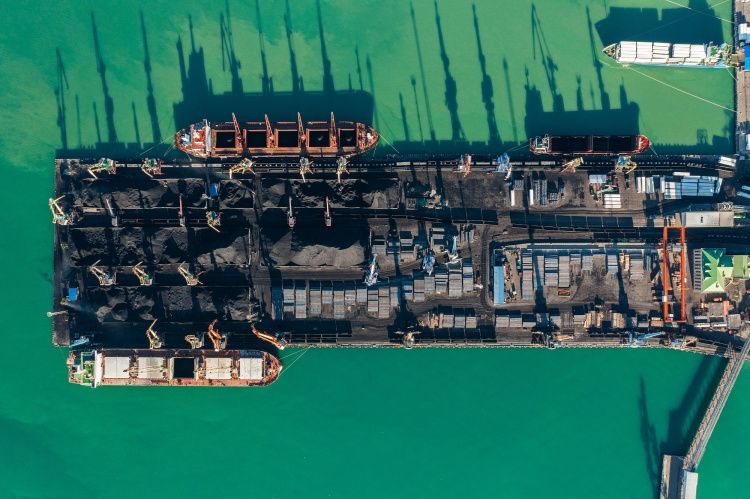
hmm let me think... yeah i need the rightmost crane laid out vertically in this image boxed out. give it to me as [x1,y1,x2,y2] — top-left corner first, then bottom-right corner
[655,227,686,322]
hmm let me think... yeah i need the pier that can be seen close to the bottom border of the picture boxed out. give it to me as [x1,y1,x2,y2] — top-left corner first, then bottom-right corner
[658,454,698,499]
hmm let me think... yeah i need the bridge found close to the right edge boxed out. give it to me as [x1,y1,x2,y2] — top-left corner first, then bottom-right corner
[688,319,750,470]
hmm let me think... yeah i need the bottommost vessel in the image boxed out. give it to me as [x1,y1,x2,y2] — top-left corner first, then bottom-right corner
[68,349,283,388]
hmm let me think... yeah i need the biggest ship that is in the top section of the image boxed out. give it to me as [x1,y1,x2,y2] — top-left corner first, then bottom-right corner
[174,112,379,158]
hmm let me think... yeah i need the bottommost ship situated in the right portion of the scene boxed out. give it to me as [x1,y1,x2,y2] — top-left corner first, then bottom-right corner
[530,135,650,155]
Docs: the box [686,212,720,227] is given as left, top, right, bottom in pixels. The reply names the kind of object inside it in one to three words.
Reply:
building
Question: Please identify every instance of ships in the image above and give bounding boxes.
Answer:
[530,135,650,155]
[595,40,735,69]
[68,349,283,388]
[174,112,379,158]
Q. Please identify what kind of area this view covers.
port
